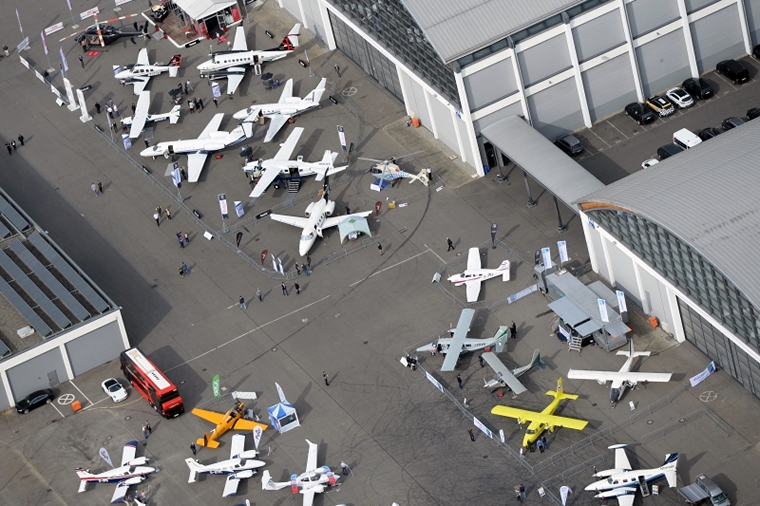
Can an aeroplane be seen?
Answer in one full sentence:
Yes, there is an aeroplane in the image.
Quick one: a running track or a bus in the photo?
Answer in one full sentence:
Visible in the photo is a bus.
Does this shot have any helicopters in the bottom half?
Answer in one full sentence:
No, in the bottom half there is no helicopter.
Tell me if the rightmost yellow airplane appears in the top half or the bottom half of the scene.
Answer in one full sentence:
The rightmost yellow airplane sits in the bottom half of the picture.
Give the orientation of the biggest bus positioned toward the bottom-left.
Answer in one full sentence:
What the image shows is the biggest bus positioned toward the bottom-left lying on a diagonal.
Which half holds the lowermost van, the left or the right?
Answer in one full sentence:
The lowermost van sits on the right side.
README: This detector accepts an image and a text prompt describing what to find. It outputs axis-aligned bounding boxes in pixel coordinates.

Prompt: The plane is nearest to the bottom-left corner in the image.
[82,443,159,505]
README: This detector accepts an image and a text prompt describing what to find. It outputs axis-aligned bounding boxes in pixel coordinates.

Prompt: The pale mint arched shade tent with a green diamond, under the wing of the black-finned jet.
[335,216,373,247]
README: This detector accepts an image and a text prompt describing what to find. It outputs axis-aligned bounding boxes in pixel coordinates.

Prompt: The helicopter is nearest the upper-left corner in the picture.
[56,16,145,59]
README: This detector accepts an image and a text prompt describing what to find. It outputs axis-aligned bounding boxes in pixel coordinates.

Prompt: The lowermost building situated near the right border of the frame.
[570,116,760,406]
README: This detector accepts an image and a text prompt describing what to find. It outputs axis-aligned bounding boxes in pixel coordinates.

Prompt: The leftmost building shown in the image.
[0,183,134,410]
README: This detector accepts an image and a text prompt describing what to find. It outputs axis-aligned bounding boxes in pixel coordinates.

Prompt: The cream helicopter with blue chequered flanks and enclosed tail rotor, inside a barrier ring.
[346,144,434,191]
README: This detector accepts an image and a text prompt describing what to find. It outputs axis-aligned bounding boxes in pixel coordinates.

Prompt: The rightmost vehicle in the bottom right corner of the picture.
[680,473,733,506]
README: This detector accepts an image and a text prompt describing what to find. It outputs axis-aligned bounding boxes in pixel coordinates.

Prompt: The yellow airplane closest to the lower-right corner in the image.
[491,384,589,450]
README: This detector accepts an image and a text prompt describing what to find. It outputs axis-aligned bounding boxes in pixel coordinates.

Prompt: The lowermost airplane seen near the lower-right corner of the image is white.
[586,444,681,506]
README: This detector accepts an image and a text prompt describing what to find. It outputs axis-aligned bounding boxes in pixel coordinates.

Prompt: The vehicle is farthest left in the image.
[14,390,56,415]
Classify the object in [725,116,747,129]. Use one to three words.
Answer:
vehicle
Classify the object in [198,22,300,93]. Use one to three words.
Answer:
airplane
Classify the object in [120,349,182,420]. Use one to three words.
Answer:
bus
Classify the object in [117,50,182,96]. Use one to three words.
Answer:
airplane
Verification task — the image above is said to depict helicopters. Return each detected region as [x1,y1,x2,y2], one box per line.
[346,144,434,191]
[56,16,145,59]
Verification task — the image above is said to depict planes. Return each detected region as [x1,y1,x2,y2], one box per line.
[491,384,589,450]
[241,125,341,195]
[235,76,330,142]
[418,309,504,369]
[586,444,681,506]
[140,113,252,185]
[569,344,675,413]
[261,444,340,506]
[447,249,509,300]
[82,443,159,505]
[270,171,376,257]
[121,89,181,135]
[198,22,300,93]
[483,349,545,394]
[189,398,269,453]
[117,50,182,96]
[188,437,266,499]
